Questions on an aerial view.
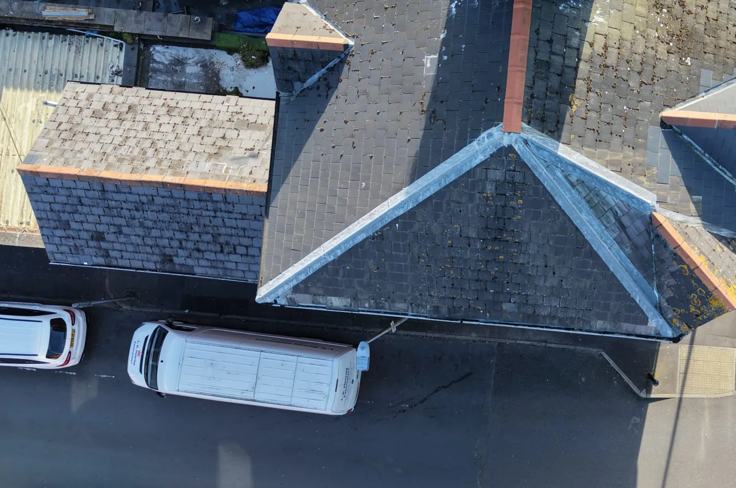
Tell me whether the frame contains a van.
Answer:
Yes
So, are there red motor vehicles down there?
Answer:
No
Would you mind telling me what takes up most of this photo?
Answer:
buildings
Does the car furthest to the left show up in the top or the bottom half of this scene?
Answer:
bottom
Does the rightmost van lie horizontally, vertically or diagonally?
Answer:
horizontally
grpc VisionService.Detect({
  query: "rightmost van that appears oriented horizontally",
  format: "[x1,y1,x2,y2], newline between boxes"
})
[126,311,362,419]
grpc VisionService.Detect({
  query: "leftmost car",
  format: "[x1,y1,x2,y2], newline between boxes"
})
[0,293,89,368]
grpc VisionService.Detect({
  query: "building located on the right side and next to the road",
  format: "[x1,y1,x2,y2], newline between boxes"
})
[254,0,736,346]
